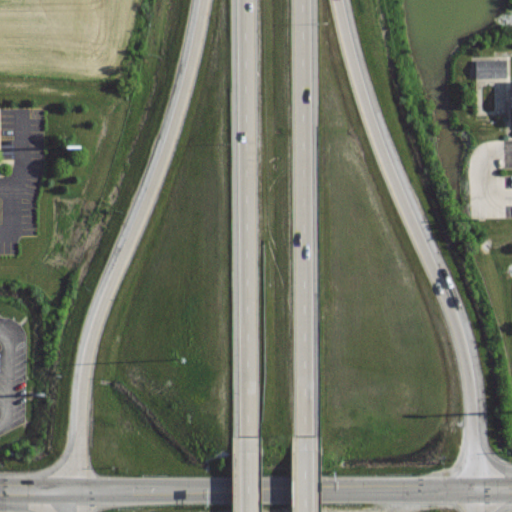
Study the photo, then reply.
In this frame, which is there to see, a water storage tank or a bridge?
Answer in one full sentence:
I can see a bridge in this picture.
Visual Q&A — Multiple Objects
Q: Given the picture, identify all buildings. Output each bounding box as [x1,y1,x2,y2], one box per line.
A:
[494,83,512,114]
[476,60,508,80]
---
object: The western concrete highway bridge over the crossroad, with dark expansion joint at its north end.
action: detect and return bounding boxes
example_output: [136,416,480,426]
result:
[232,436,262,512]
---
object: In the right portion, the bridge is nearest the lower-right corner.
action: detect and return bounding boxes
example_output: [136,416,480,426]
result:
[292,428,324,512]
